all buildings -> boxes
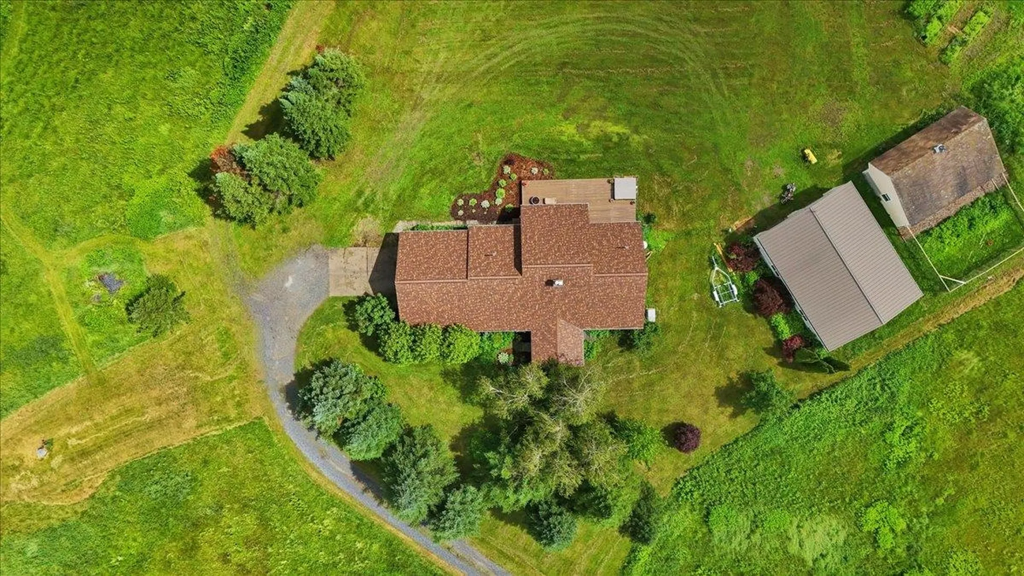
[753,179,923,353]
[393,203,648,366]
[862,108,1005,227]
